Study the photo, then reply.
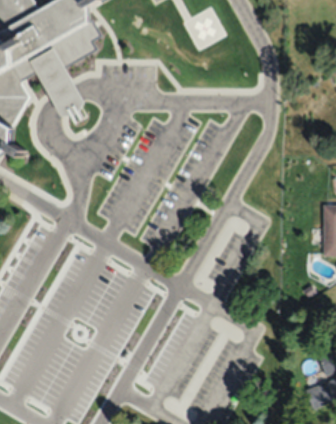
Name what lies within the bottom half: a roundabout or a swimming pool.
swimming pool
